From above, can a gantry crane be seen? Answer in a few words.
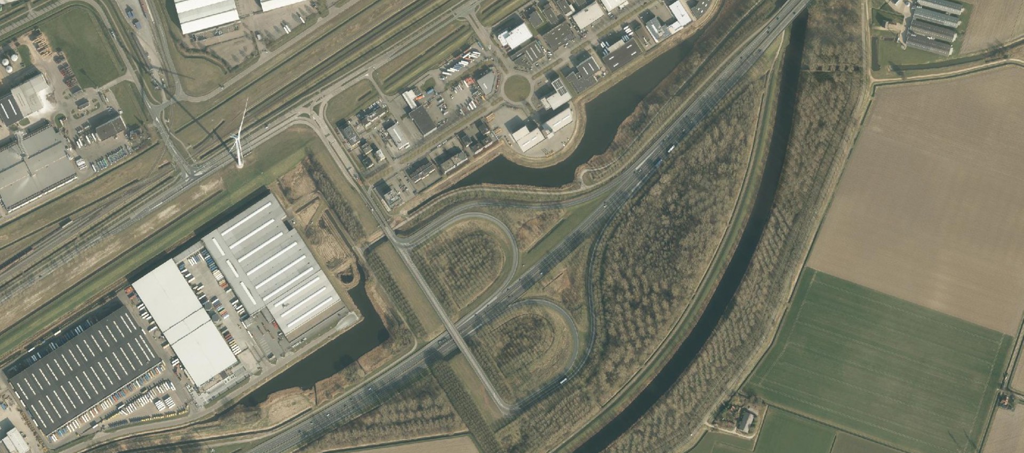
No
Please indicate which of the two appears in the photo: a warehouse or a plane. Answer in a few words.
warehouse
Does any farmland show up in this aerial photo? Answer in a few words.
Yes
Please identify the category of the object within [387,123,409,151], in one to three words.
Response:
building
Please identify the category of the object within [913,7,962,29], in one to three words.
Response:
barn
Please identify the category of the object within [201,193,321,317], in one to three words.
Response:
warehouse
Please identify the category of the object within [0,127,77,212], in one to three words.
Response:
building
